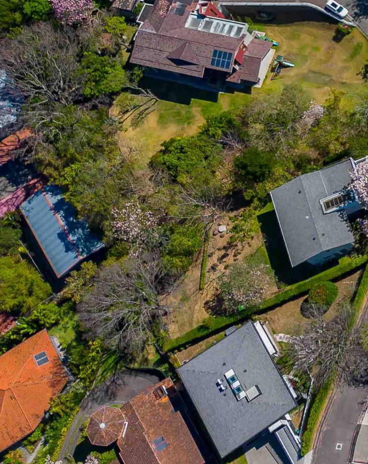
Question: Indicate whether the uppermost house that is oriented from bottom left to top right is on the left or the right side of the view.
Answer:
left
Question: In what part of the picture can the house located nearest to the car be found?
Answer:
top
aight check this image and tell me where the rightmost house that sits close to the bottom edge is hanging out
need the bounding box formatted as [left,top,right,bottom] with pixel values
[178,318,305,464]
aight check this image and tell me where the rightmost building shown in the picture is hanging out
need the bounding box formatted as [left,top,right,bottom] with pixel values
[269,156,368,267]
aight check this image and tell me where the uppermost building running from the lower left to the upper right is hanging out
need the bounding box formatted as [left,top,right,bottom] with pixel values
[0,127,43,163]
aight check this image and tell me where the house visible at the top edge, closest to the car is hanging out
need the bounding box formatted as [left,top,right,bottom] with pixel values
[130,0,276,83]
